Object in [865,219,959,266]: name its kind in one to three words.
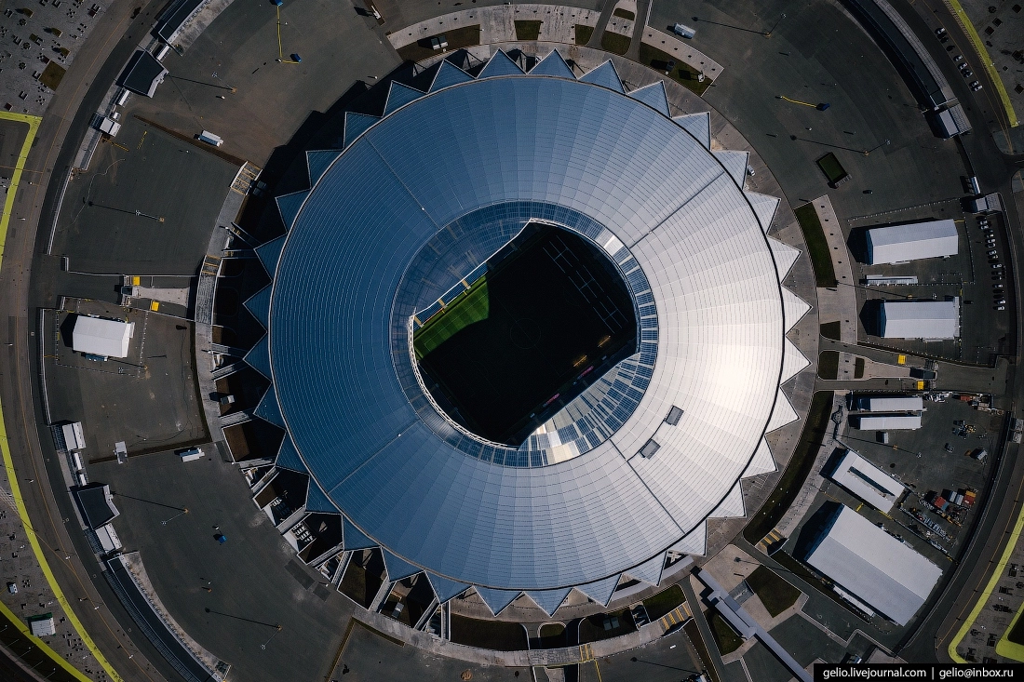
building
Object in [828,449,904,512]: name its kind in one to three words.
shed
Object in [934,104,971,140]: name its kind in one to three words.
building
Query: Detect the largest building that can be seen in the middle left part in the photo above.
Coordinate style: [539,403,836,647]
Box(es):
[71,315,136,363]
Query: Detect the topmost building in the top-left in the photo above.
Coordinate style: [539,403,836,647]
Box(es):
[149,0,215,46]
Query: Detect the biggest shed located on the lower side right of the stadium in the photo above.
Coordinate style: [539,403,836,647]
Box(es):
[803,503,942,626]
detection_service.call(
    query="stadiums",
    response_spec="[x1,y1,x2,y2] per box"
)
[241,48,810,618]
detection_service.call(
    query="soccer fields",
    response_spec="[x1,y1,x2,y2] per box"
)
[413,223,639,442]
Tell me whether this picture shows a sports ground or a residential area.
sports ground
